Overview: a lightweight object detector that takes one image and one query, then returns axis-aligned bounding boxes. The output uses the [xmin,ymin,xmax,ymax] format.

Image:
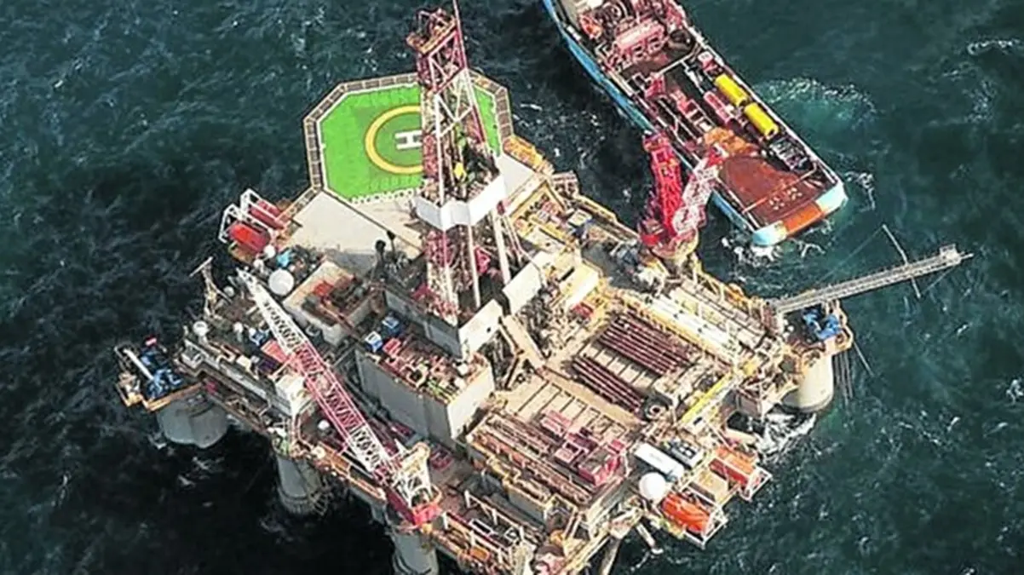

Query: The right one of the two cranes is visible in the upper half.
[642,139,722,296]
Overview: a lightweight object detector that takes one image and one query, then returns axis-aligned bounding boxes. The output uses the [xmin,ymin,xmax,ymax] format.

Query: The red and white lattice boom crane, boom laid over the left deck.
[230,268,458,542]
